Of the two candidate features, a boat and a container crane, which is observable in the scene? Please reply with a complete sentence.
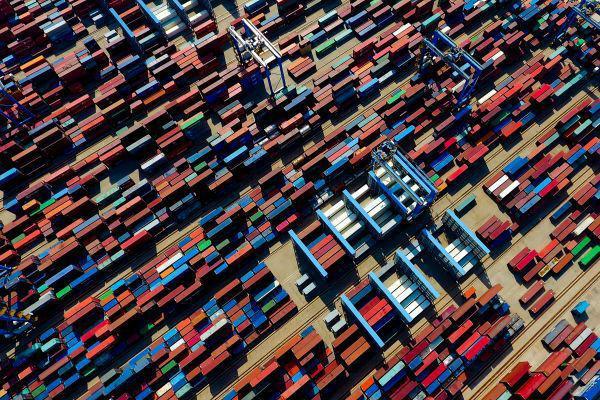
Looking from above, you can make out a container crane.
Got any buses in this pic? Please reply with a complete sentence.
No, this view has no bus in it.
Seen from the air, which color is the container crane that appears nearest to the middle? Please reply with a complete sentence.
The container crane that appears nearest to the middle is blue.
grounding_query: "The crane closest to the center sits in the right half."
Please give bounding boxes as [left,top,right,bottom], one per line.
[367,139,442,224]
